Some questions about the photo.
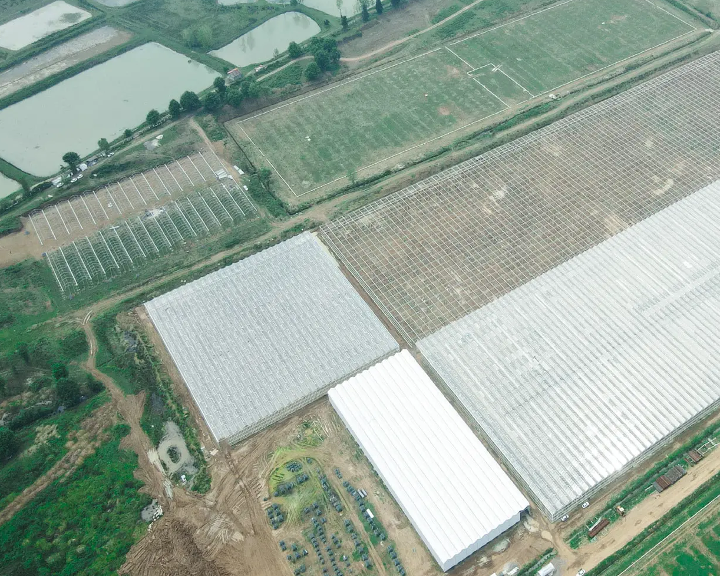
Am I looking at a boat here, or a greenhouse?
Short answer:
greenhouse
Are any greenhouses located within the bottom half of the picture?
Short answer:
Yes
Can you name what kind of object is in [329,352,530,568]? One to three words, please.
greenhouse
